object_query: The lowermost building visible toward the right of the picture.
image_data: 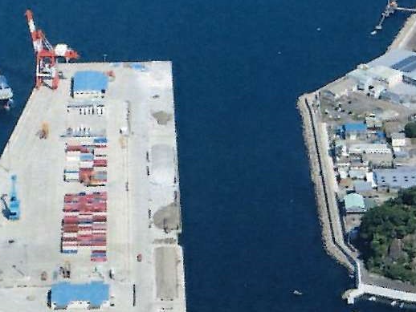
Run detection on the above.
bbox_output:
[345,190,366,214]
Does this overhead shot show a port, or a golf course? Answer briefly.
port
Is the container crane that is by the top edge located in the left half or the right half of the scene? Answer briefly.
left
